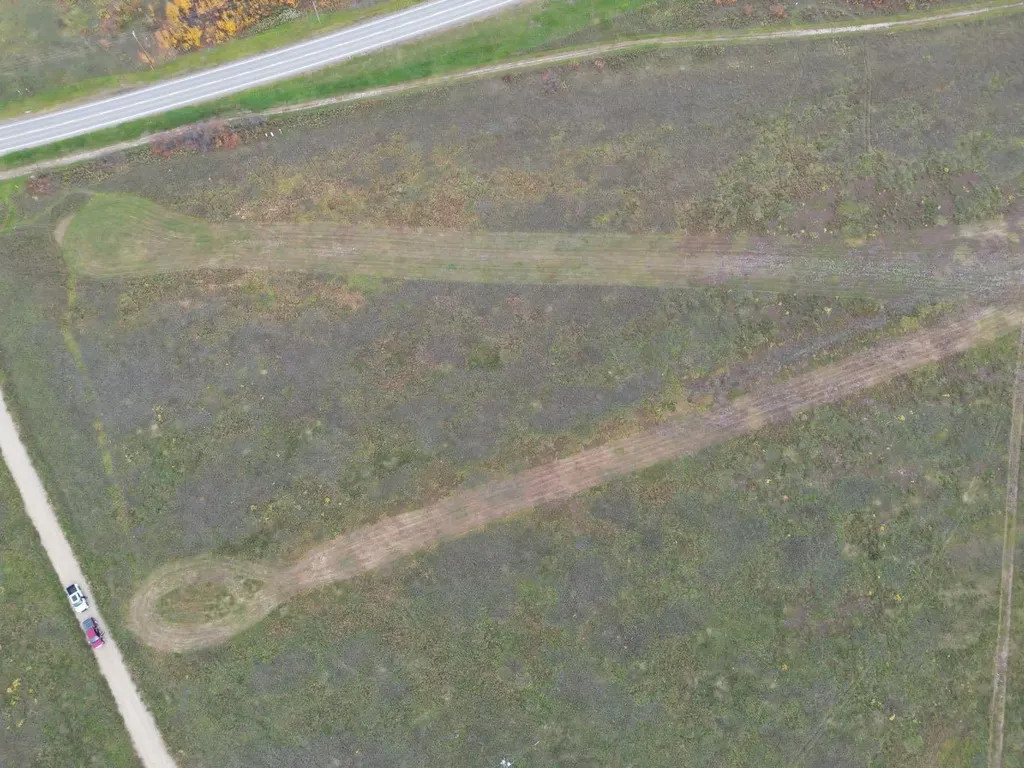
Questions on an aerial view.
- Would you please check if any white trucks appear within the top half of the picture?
No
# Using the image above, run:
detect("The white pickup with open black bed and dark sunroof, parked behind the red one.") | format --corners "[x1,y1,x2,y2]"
[66,583,90,614]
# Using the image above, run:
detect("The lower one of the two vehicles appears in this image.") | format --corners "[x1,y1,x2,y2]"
[81,616,107,649]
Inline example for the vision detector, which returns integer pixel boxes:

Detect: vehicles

[66,583,90,614]
[81,616,107,649]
